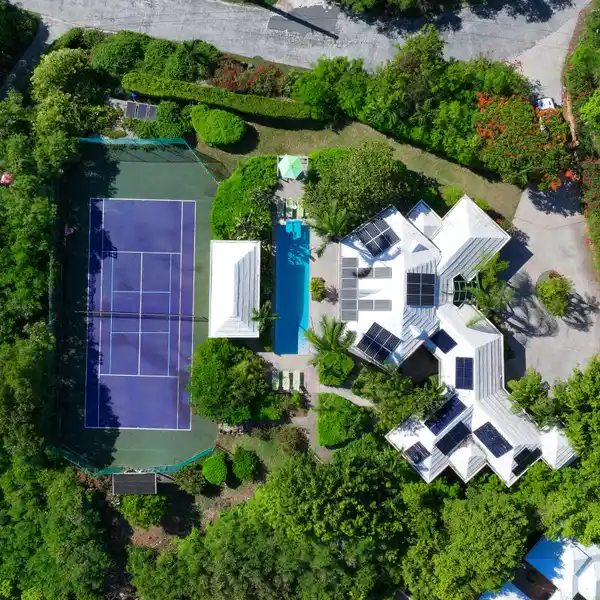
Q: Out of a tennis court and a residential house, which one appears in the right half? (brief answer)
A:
residential house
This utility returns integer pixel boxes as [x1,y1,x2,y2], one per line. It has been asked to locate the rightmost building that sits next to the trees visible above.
[480,529,600,600]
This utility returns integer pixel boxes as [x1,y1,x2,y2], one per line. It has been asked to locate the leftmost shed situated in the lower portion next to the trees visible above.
[112,472,159,495]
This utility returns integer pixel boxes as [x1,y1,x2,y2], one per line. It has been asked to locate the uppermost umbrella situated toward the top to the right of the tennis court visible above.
[279,153,305,181]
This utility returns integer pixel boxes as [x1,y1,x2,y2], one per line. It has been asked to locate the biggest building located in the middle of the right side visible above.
[340,195,571,486]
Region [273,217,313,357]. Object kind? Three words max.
swimming pool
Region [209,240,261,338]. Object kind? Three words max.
building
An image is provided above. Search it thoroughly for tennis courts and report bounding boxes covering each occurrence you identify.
[62,147,220,466]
